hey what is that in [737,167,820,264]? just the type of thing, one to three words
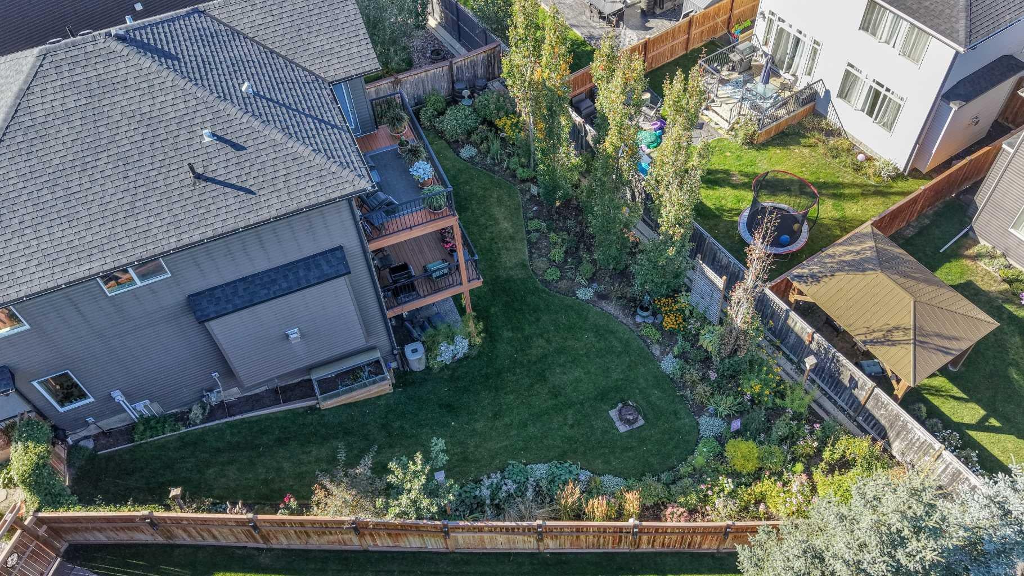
trampoline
